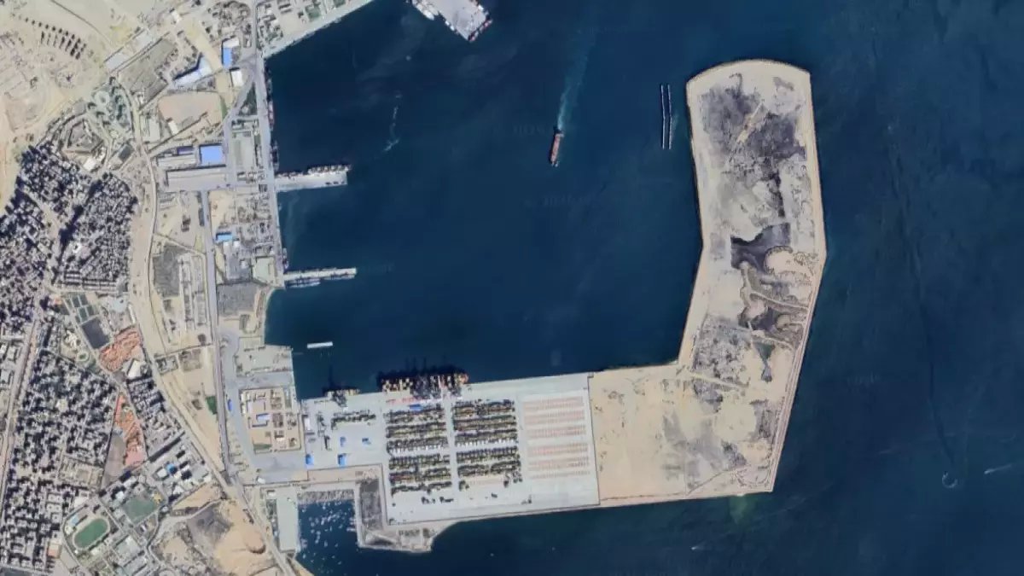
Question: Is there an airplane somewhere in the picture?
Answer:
No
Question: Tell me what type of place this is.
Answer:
port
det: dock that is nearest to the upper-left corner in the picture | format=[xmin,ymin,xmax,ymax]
[274,172,347,192]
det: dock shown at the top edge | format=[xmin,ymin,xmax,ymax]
[414,0,489,39]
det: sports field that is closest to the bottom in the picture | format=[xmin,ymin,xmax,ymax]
[74,517,109,548]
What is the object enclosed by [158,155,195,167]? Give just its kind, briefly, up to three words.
building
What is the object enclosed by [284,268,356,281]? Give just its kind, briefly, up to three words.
pier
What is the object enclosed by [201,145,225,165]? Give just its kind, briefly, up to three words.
building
